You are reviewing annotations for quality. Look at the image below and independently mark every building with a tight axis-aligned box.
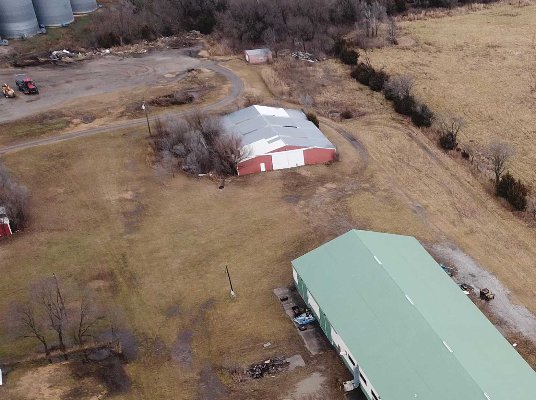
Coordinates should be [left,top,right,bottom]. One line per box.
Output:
[0,212,11,235]
[247,50,270,65]
[289,228,536,400]
[206,105,337,176]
